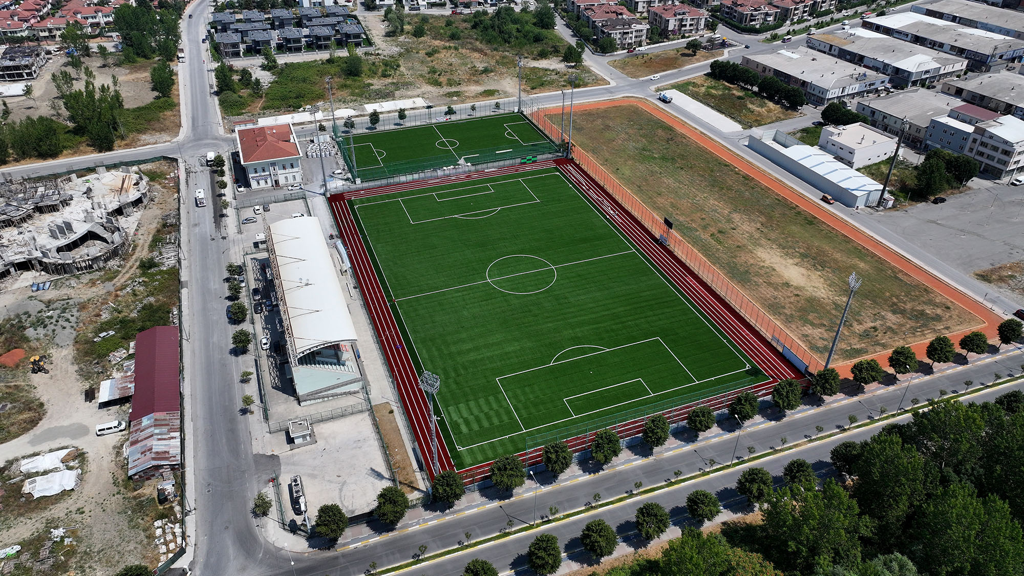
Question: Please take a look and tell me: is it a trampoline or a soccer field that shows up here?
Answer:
soccer field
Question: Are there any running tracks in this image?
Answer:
Yes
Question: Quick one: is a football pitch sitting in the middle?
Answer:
Yes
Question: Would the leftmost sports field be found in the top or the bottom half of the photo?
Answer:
top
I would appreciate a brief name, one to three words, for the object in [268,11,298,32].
house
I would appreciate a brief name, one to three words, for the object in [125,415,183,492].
shed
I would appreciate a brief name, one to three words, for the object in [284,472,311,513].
truck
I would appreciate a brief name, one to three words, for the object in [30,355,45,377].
work vehicle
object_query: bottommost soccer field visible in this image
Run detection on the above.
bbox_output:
[346,166,772,471]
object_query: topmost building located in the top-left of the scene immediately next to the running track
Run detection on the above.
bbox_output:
[235,121,303,189]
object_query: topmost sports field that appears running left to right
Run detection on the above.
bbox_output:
[342,112,554,179]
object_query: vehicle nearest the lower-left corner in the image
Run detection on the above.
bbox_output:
[94,420,124,437]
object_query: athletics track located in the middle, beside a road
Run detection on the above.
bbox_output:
[327,156,811,498]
